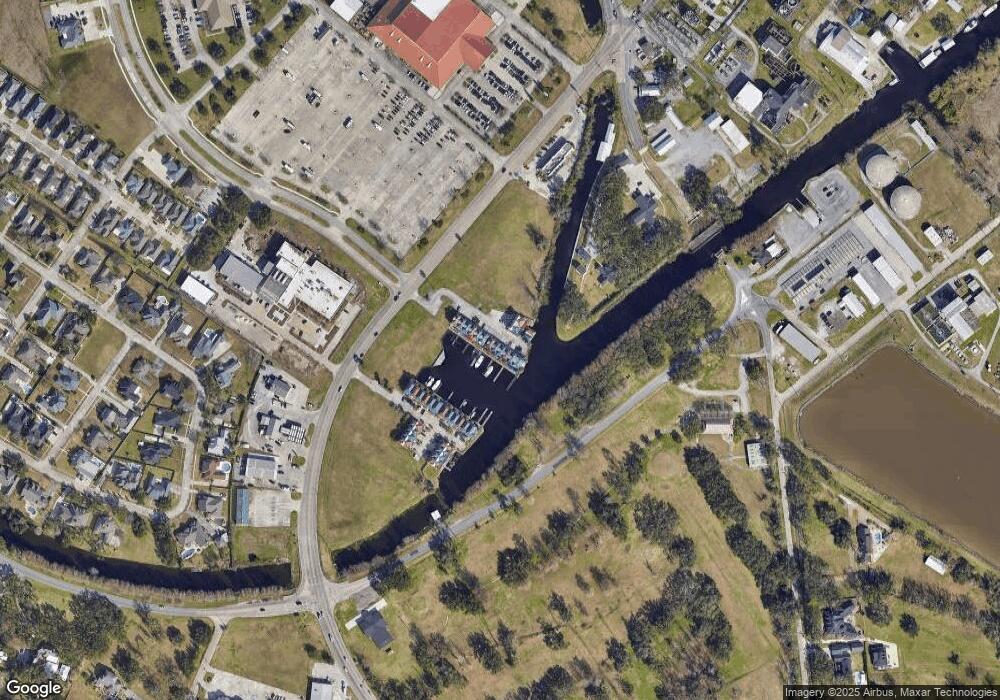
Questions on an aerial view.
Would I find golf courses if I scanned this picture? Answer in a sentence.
Yes, the frame does contain a golf course.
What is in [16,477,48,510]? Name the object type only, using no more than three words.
house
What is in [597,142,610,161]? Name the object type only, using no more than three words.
boat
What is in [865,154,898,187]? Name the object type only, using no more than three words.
storage tank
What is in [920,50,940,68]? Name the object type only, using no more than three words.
boat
